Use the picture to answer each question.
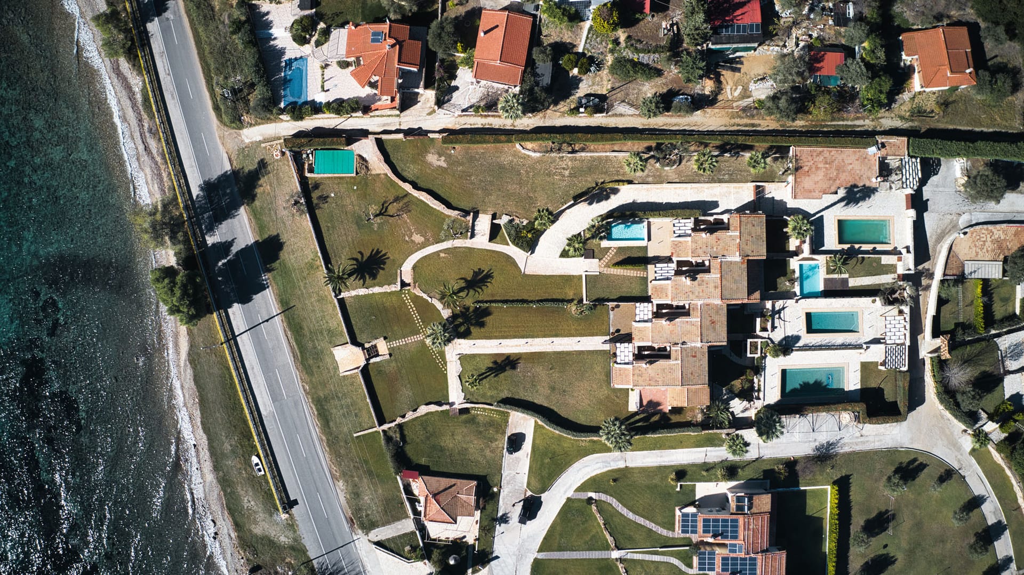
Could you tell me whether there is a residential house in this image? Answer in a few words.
Yes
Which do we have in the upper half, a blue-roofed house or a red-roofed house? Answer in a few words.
red-roofed house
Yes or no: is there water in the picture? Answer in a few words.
Yes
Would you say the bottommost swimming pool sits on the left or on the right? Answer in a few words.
right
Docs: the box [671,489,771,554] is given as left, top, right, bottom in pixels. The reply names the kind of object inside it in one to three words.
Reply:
house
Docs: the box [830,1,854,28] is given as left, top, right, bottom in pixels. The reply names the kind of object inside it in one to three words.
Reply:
building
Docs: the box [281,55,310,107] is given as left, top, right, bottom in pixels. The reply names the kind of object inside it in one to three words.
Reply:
swimming pool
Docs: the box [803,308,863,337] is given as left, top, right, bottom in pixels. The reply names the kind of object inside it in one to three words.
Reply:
swimming pool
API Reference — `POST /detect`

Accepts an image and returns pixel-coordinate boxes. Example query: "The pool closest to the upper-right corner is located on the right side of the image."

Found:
[835,216,895,247]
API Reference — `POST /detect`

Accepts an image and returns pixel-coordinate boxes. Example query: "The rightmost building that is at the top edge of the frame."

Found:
[896,27,976,90]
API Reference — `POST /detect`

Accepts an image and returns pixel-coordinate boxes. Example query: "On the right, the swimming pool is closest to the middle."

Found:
[608,220,648,243]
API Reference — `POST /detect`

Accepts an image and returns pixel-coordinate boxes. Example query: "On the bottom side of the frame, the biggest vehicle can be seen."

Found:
[512,494,533,524]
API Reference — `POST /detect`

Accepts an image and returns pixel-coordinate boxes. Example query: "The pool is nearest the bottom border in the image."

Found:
[778,364,849,403]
